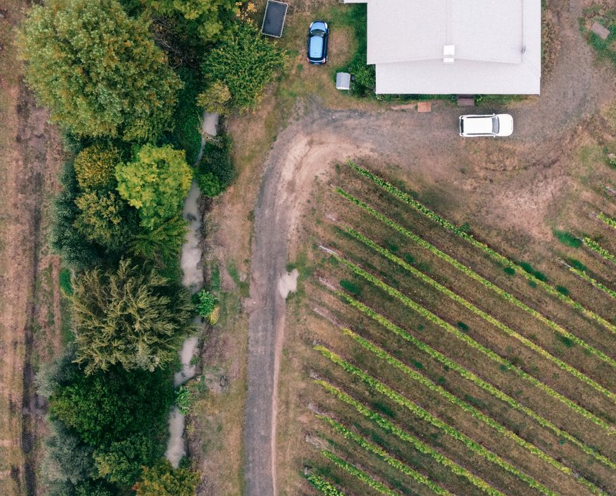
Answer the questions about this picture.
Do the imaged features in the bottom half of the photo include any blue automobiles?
No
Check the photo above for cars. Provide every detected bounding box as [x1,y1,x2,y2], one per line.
[306,23,330,67]
[460,113,512,138]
